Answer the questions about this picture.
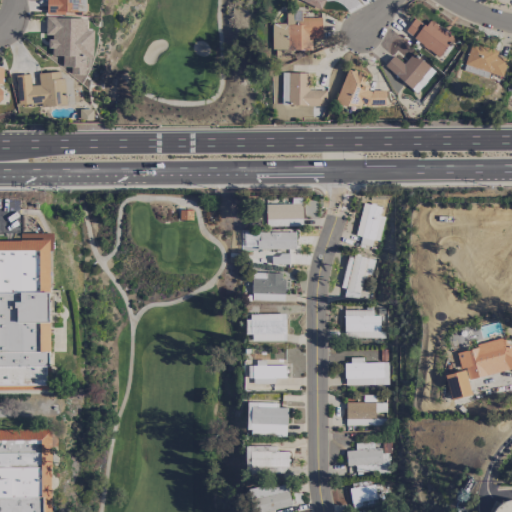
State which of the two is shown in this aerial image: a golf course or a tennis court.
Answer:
golf course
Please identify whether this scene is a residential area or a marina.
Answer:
residential area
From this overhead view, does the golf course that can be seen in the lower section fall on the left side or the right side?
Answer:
left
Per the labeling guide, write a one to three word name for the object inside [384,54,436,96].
house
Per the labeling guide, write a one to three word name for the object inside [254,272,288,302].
house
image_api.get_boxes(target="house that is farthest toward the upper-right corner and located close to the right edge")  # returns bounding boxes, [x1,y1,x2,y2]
[466,45,510,80]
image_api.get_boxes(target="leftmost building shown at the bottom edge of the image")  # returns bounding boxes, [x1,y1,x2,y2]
[0,431,57,512]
